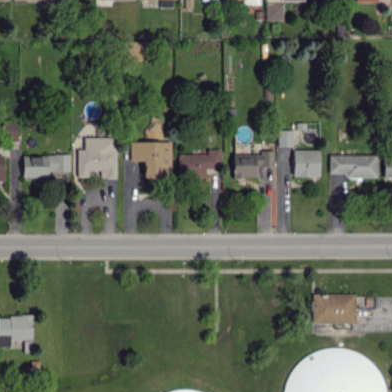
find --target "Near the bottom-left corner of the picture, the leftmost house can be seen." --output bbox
[0,314,34,354]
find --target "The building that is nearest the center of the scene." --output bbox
[178,150,222,179]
